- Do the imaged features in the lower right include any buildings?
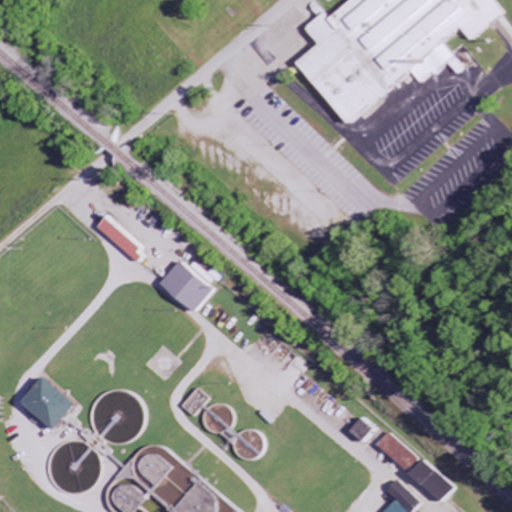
Yes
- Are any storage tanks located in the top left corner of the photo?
No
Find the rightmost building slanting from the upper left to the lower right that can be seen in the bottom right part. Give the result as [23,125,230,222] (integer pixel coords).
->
[406,462,452,502]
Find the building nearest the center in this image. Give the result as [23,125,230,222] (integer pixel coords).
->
[161,264,214,310]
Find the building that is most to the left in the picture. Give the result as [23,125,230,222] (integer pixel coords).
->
[20,378,75,428]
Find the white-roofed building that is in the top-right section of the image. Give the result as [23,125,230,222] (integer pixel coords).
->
[295,0,506,124]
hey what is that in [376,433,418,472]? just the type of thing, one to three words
building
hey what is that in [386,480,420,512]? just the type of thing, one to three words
shed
